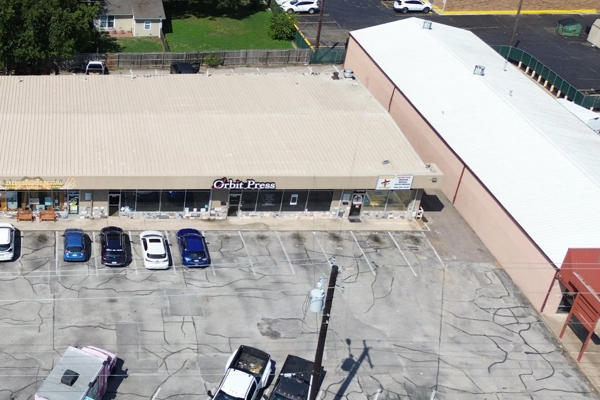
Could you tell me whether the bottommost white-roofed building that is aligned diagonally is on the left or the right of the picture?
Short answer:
right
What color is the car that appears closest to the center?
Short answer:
blue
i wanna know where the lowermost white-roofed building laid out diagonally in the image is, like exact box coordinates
[341,17,600,334]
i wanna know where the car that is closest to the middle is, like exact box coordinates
[177,223,210,265]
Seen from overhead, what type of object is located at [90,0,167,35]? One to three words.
house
